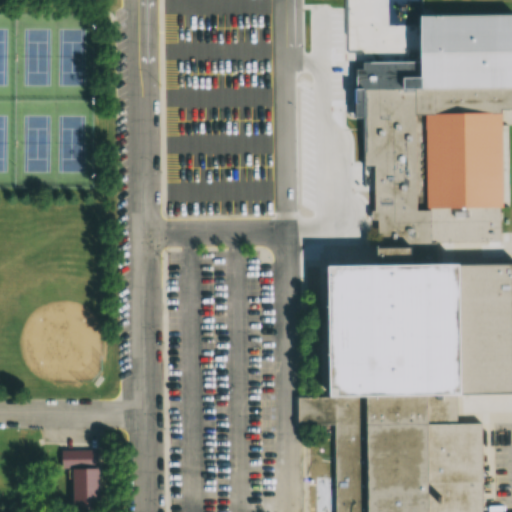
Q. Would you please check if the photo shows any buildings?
Yes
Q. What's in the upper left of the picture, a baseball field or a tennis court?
tennis court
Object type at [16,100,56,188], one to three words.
tennis court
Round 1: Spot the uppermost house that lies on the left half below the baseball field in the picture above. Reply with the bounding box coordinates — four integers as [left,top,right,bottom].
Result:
[62,450,94,468]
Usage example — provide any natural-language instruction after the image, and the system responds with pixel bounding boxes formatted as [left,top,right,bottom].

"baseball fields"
[20,300,104,382]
